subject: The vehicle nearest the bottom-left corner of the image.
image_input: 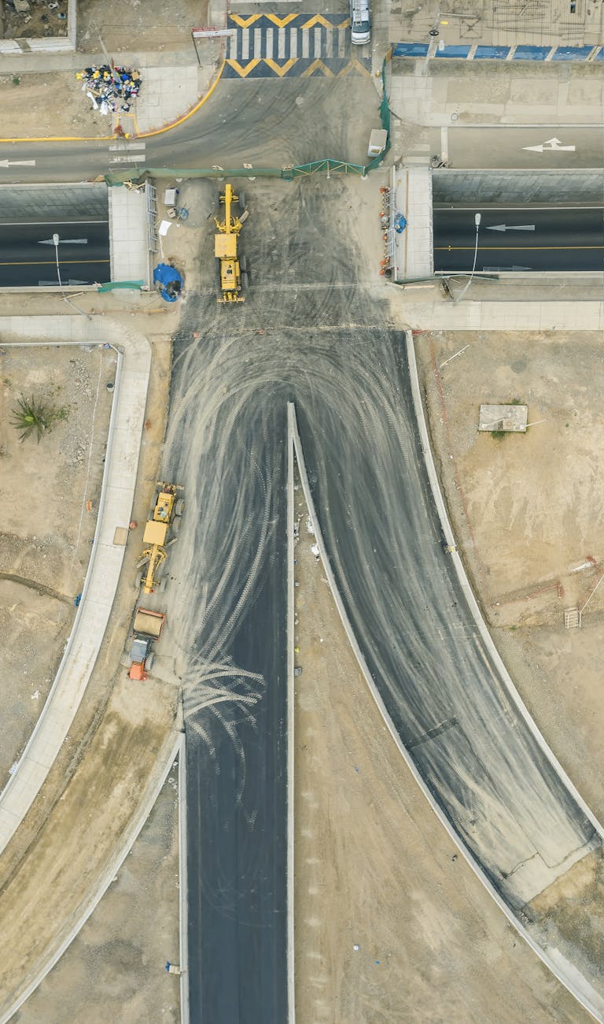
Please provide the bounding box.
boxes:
[125,608,167,684]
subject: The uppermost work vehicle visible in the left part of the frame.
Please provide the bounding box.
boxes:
[212,189,248,309]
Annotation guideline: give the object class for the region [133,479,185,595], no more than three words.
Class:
work vehicle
